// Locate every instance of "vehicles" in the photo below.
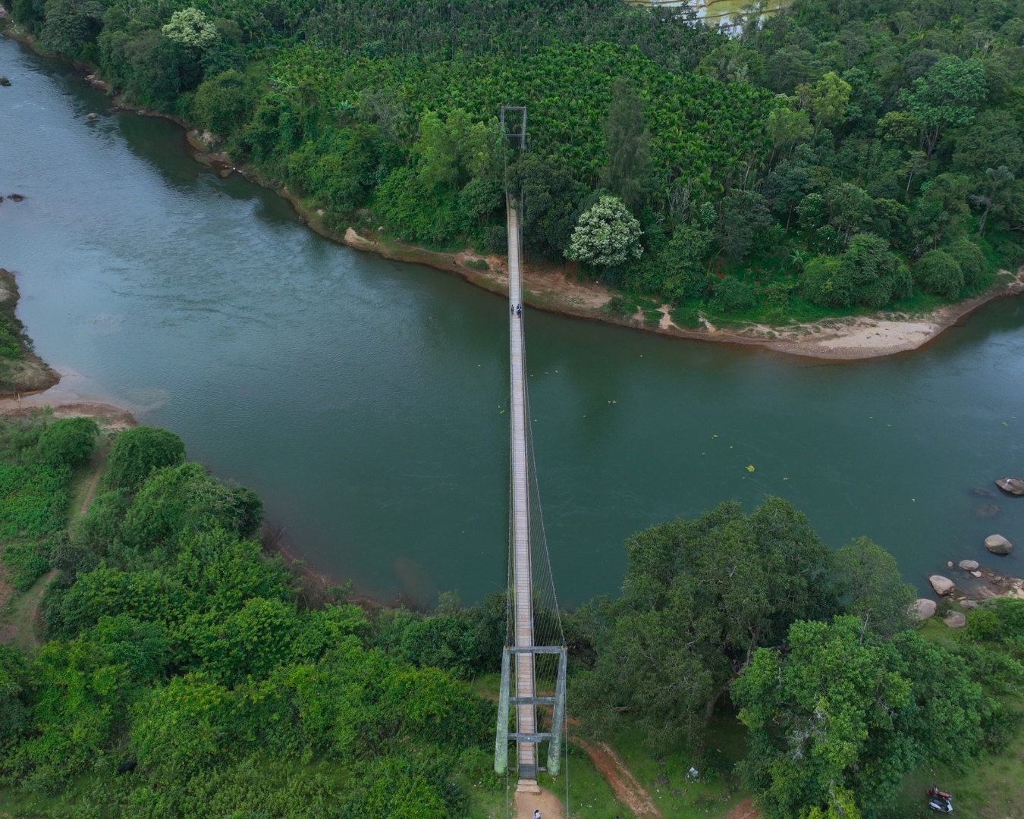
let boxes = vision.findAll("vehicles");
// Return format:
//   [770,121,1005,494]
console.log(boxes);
[928,784,958,802]
[930,800,957,814]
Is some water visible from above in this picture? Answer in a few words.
Yes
